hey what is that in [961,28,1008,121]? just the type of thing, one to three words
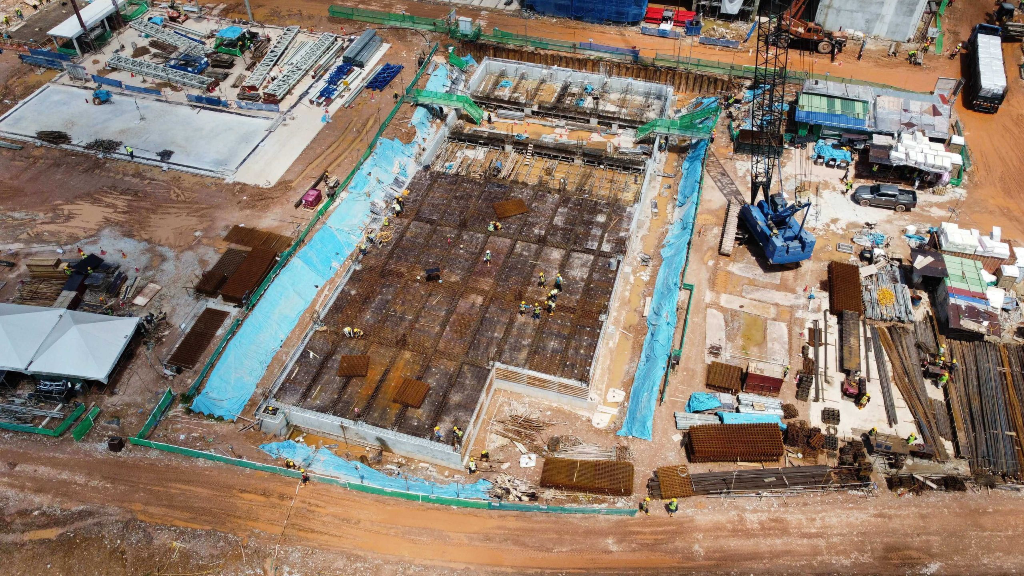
truck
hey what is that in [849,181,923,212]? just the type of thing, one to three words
truck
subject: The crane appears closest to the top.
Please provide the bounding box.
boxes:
[764,0,855,58]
